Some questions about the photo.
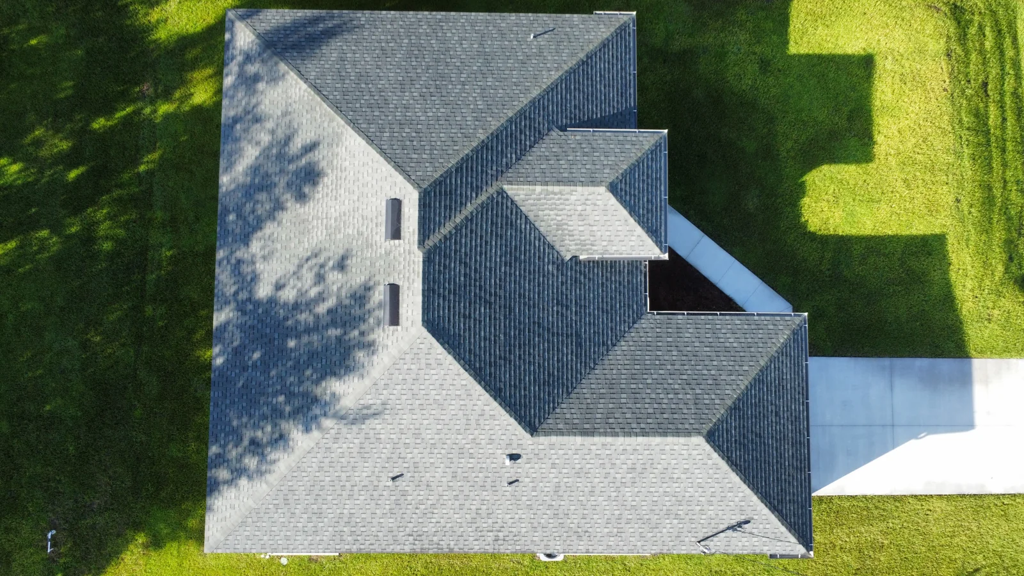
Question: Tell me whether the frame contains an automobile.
No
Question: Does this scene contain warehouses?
No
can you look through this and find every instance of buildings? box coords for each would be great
[202,7,816,559]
